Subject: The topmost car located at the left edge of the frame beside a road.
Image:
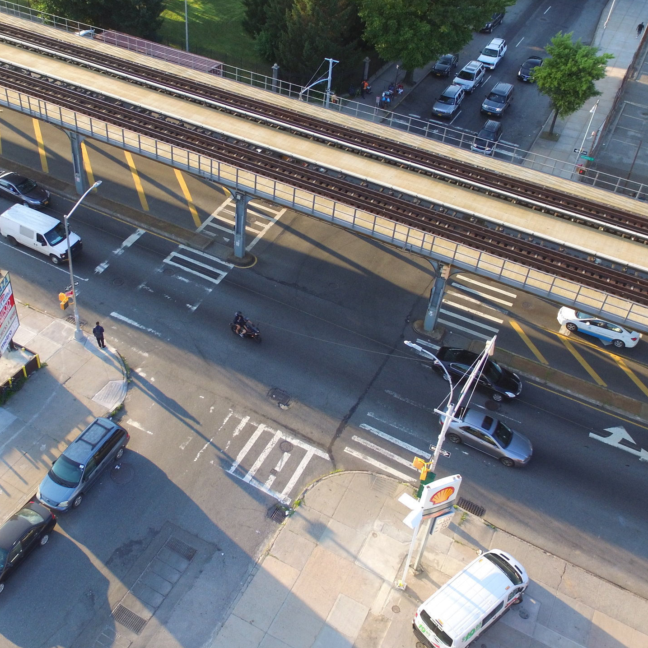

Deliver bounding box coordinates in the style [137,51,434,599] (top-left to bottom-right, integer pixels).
[0,170,51,208]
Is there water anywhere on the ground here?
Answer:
No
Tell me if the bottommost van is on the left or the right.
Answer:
right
